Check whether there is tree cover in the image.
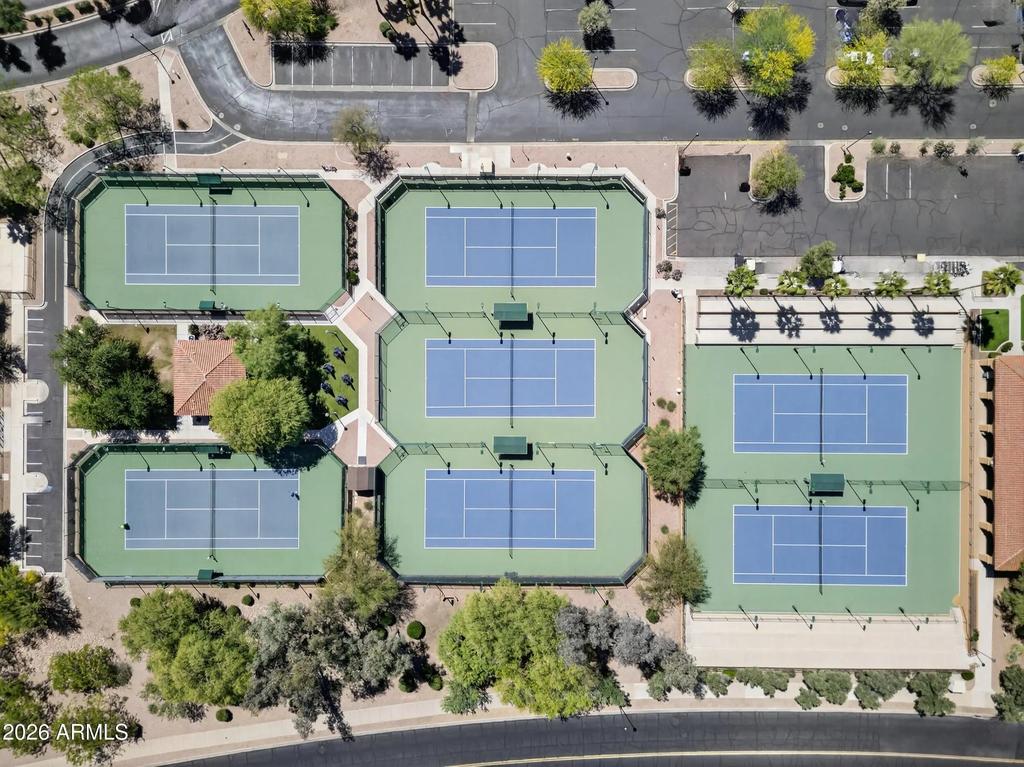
Yes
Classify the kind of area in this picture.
sports ground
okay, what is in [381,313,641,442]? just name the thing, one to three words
tennis court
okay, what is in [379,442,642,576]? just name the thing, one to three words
tennis court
